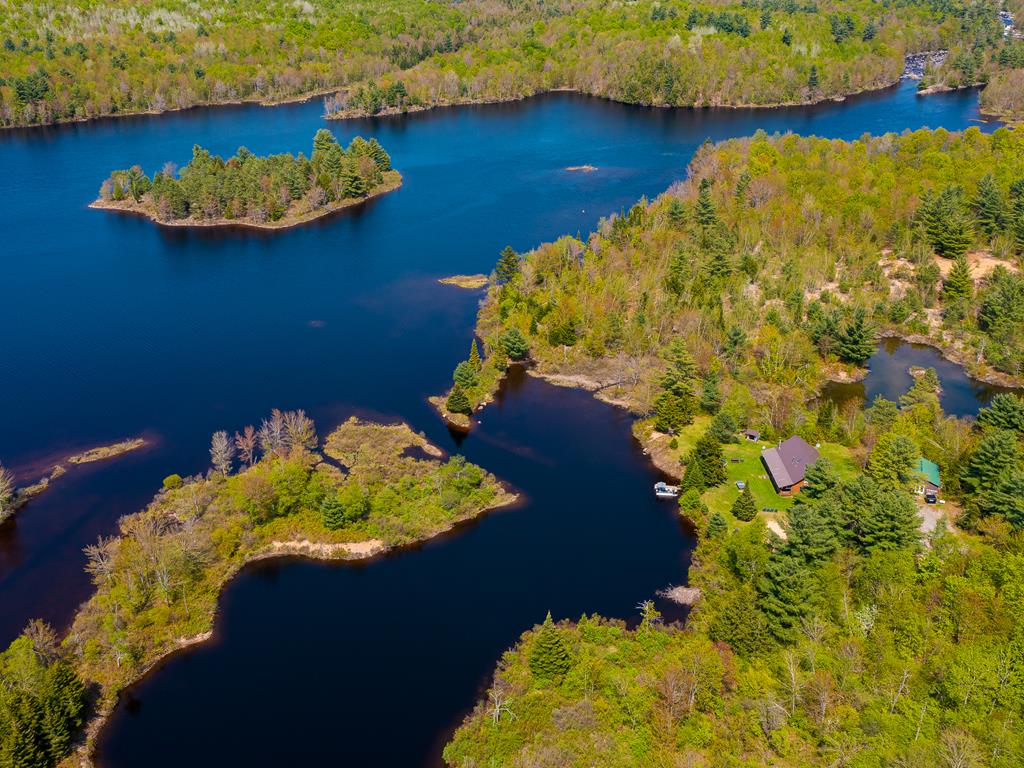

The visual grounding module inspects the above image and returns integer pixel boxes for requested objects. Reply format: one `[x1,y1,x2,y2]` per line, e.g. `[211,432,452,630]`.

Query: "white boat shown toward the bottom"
[653,483,676,498]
